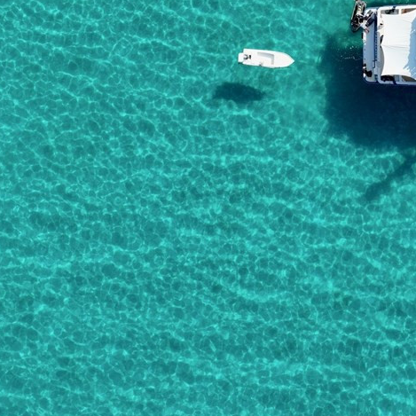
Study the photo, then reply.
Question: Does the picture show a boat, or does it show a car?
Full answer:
I can see a boat in this picture.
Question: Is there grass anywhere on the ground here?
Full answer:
No, grass can't be seen anywhere here.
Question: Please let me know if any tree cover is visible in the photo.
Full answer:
No, there's no tree cover in this view.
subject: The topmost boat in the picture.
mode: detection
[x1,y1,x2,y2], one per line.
[348,0,365,32]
